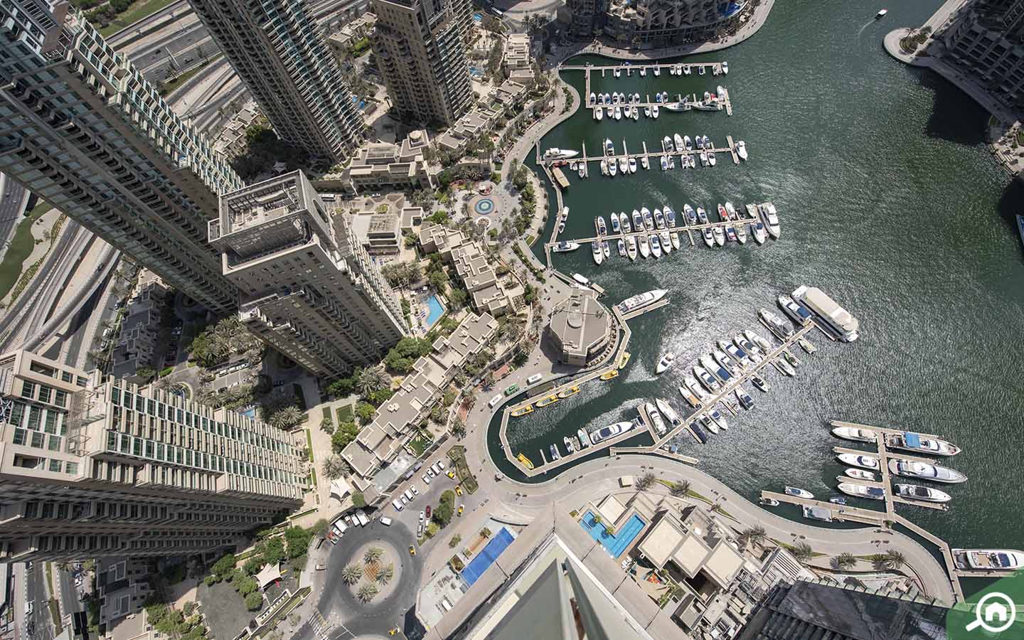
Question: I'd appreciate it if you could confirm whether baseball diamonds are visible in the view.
No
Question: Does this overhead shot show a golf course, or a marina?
marina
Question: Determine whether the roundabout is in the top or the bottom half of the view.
bottom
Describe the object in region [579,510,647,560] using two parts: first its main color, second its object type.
blue swimming pool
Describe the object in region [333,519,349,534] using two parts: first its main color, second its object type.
white vehicle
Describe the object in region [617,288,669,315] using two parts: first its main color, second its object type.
white boat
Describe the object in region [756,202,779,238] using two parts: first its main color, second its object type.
white boat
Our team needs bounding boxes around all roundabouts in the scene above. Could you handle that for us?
[308,518,422,640]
